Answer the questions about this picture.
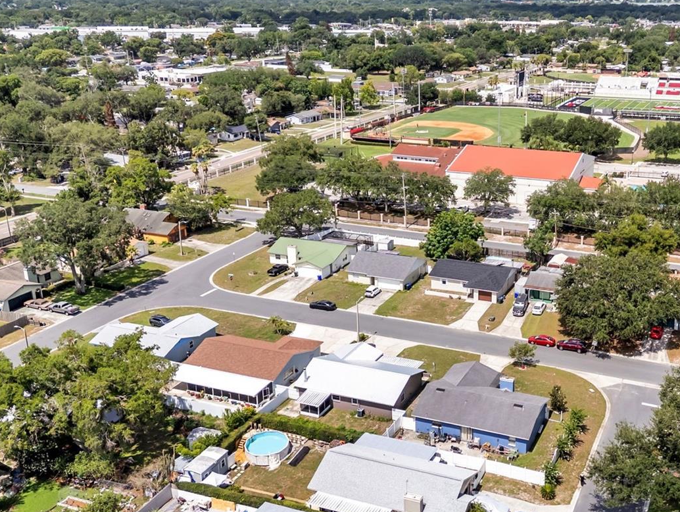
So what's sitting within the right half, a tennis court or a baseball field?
baseball field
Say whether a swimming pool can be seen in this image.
Yes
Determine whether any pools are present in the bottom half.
Yes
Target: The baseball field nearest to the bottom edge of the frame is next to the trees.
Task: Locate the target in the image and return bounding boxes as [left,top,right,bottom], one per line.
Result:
[364,107,633,159]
